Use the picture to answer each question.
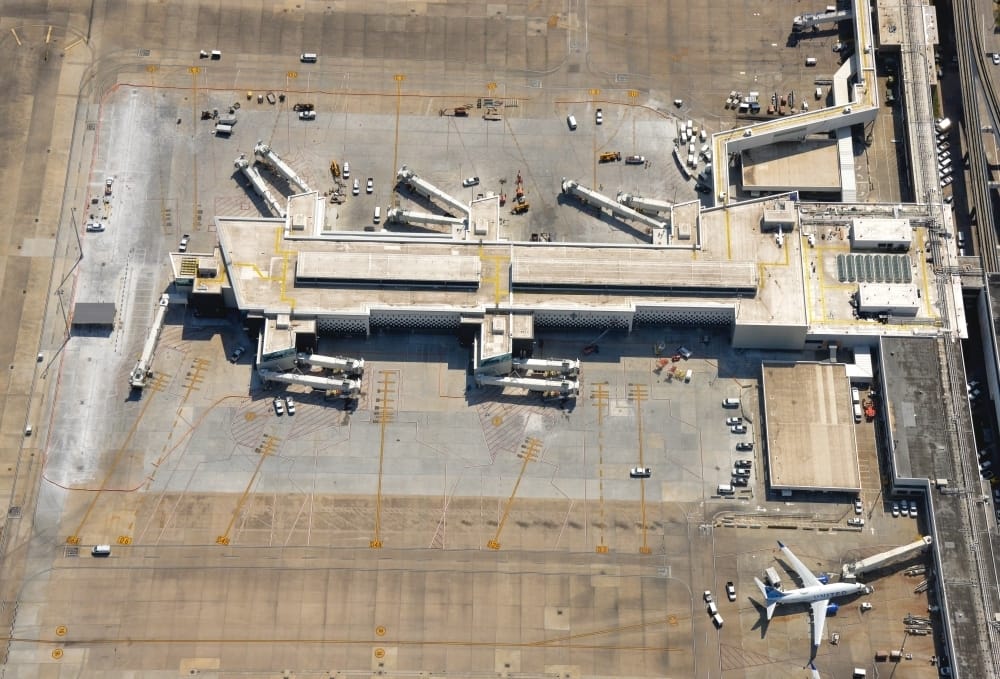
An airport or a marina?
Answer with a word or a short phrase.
airport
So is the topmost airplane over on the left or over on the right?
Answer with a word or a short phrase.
right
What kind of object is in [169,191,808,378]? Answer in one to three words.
building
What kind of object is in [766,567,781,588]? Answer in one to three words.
vehicle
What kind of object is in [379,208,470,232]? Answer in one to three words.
jet bridge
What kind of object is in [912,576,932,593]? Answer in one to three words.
work vehicle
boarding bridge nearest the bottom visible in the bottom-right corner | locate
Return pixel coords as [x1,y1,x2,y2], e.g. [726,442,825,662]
[842,535,934,587]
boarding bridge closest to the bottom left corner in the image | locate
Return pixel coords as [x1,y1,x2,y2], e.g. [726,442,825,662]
[130,295,188,397]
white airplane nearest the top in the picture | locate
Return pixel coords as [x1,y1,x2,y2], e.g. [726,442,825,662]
[758,542,865,647]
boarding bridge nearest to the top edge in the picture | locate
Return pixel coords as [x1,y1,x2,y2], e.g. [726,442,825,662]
[784,14,849,34]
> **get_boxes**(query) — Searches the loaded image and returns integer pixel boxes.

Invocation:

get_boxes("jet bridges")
[553,182,668,230]
[511,358,585,380]
[130,295,188,397]
[297,353,370,380]
[474,372,585,401]
[842,535,934,587]
[784,14,849,34]
[609,193,675,217]
[391,169,470,220]
[249,143,313,194]
[229,156,287,220]
[379,208,470,232]
[258,369,367,401]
